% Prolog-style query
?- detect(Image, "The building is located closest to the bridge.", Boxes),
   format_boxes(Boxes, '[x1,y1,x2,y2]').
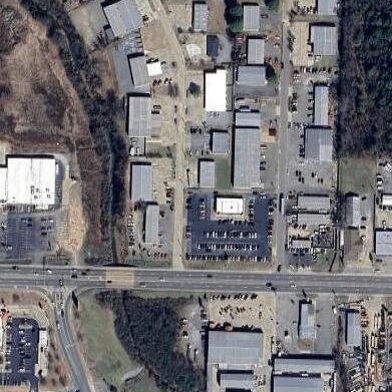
[145,204,159,244]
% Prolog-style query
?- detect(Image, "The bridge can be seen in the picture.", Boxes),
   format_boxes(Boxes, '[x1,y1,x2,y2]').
[106,268,135,291]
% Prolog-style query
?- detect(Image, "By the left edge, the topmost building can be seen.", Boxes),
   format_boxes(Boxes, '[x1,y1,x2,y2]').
[0,158,55,204]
